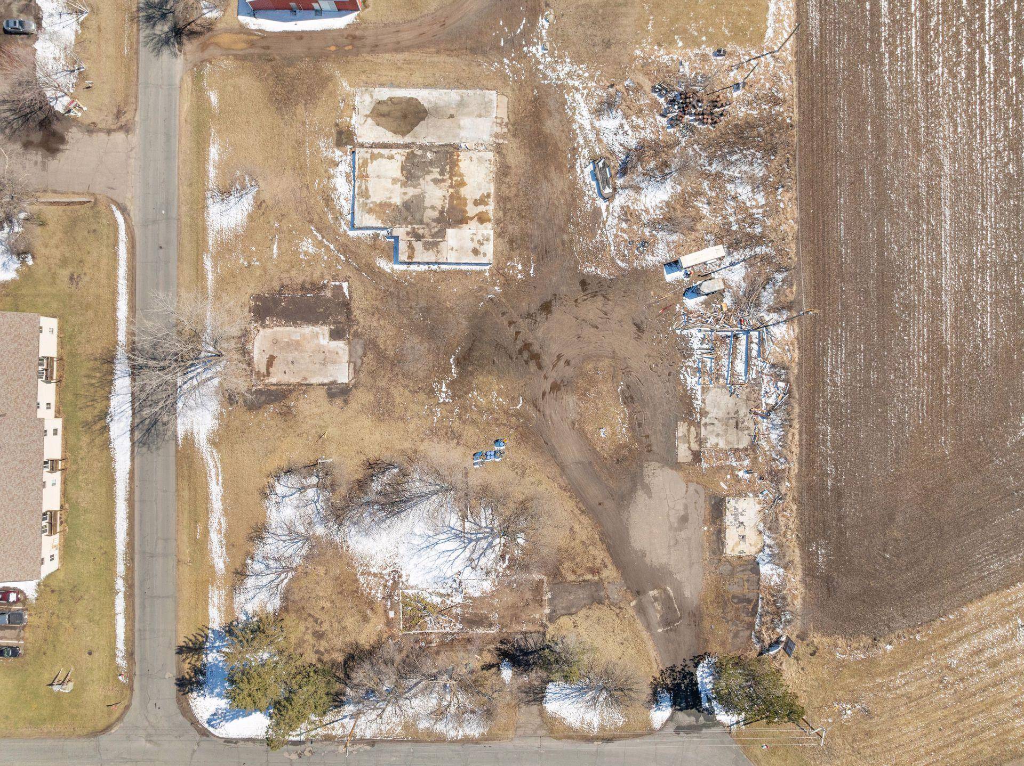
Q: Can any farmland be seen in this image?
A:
Yes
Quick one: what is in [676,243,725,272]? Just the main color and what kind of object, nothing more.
white trailer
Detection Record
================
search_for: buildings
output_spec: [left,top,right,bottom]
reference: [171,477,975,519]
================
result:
[244,0,361,17]
[0,310,69,585]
